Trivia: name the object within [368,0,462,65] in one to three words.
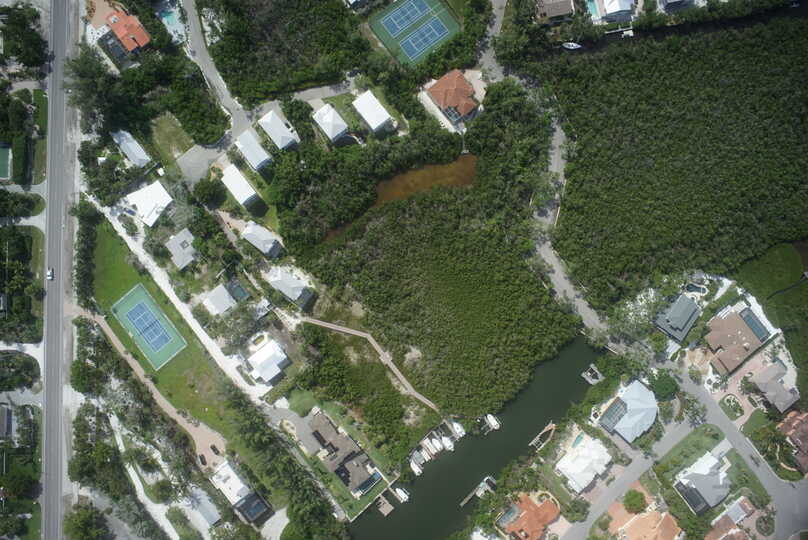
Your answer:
tennis court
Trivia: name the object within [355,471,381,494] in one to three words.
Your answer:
swimming pool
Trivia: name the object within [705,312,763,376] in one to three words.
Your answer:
house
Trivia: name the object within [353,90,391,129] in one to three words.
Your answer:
house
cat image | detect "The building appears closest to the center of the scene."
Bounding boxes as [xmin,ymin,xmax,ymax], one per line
[261,264,307,302]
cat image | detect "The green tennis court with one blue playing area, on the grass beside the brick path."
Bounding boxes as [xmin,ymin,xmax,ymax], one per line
[111,282,188,373]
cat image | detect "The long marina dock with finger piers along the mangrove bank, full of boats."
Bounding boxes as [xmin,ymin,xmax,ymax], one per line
[410,419,459,471]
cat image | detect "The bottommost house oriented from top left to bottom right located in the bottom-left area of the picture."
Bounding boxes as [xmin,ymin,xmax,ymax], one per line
[189,485,221,526]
